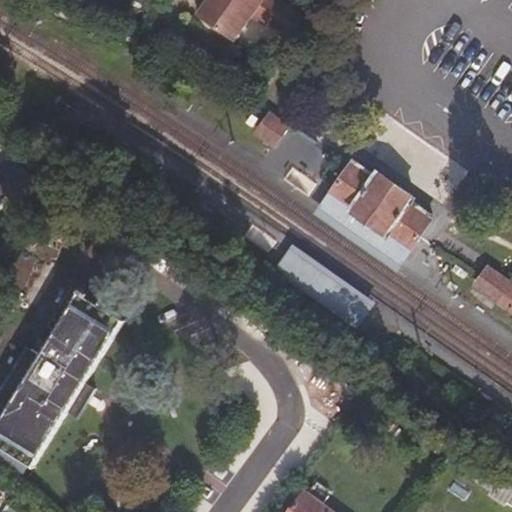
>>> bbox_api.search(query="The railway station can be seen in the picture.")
[314,160,432,270]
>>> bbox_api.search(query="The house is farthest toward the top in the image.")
[194,0,276,44]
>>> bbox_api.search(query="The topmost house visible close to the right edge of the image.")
[472,264,512,318]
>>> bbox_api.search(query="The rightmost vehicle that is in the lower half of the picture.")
[158,306,178,323]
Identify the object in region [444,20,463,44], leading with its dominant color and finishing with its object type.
gray car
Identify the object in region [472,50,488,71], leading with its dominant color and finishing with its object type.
white car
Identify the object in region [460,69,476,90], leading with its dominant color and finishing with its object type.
white car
